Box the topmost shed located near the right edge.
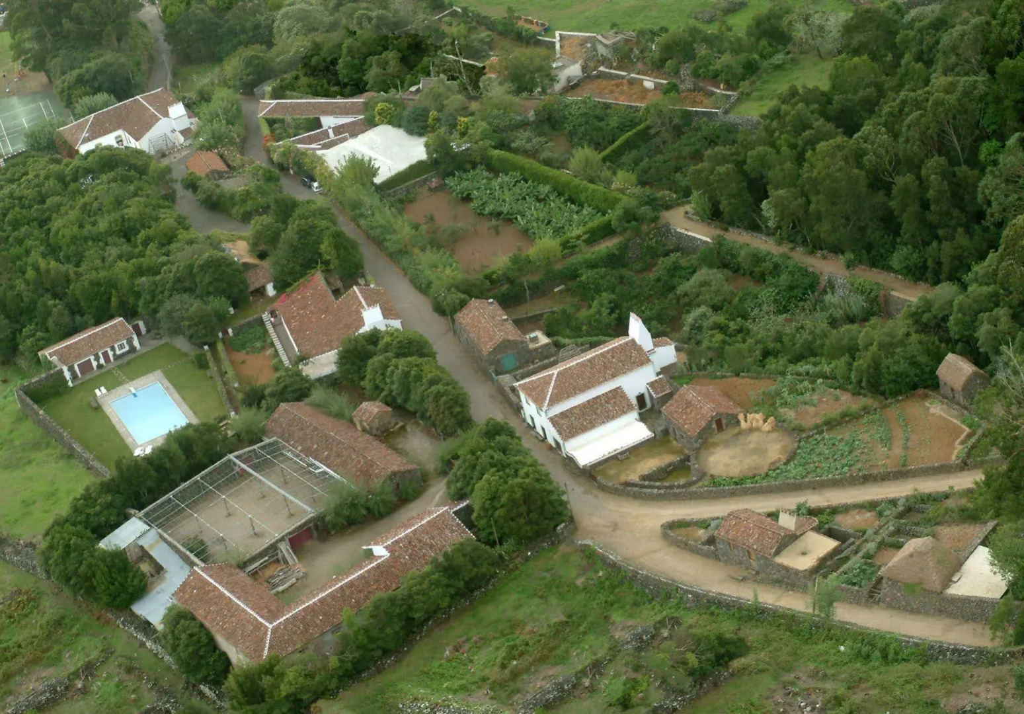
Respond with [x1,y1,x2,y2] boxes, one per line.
[936,354,989,408]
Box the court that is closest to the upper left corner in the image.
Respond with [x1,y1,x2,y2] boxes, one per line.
[0,90,69,160]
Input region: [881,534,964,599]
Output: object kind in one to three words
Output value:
barn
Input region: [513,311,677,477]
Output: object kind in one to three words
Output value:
house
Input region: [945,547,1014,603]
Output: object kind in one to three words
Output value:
shed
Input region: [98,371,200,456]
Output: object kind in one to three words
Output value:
swimming pool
